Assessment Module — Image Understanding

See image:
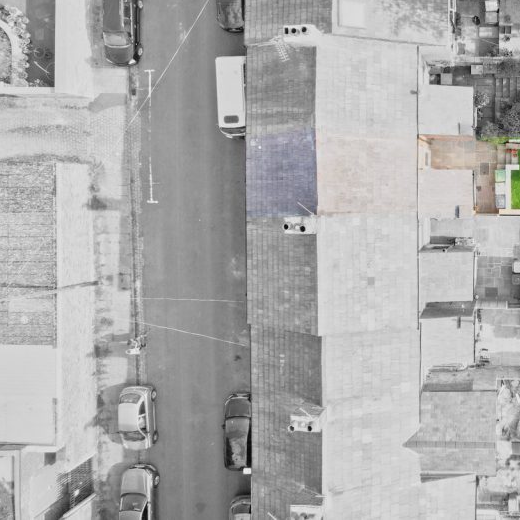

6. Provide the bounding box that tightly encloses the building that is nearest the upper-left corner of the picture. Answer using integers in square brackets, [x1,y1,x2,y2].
[0,162,94,286]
